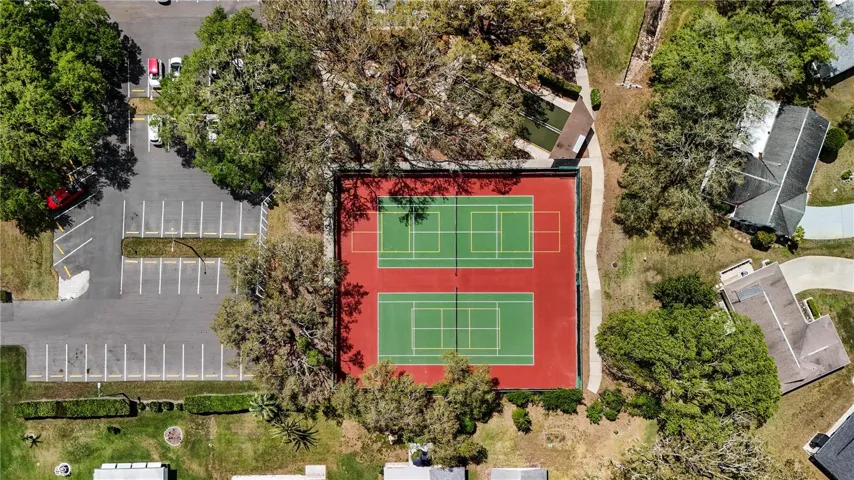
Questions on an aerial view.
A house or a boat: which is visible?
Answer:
house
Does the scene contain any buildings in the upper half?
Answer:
Yes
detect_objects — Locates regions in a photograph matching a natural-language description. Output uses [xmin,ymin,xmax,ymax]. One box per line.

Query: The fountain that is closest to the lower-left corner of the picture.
[54,462,71,478]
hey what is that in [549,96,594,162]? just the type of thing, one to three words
building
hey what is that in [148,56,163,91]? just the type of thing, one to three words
vehicle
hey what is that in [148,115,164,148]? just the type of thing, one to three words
car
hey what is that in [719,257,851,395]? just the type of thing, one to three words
house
